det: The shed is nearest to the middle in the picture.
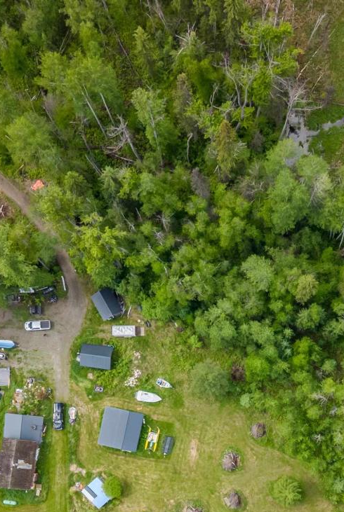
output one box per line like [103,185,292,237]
[91,288,124,321]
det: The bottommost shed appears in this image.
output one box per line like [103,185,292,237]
[82,477,113,507]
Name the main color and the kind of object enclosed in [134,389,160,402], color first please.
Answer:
white boat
